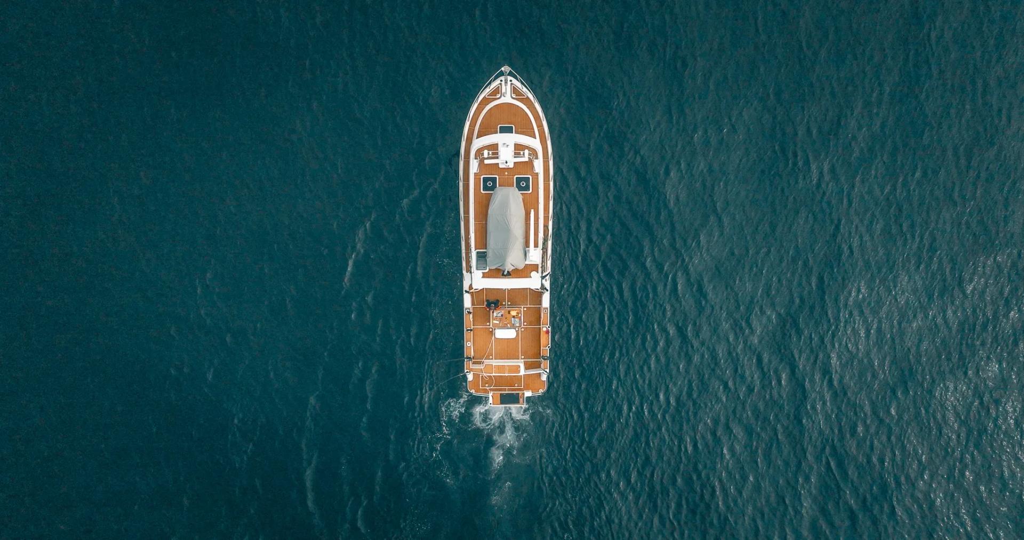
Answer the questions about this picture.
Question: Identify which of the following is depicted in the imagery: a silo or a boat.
boat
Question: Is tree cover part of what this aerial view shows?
No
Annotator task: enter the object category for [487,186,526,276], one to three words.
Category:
boat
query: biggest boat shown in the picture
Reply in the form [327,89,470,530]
[459,66,554,406]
